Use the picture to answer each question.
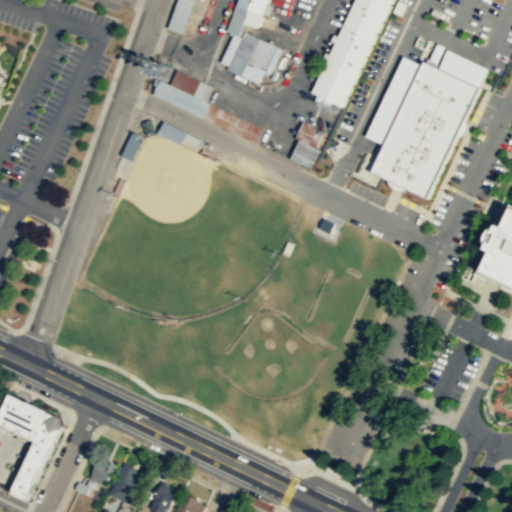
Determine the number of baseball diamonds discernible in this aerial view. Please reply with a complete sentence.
My tally gives 2 baseball diamonds in this view.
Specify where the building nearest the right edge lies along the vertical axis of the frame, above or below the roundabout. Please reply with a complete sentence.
Looking at the scene, the building nearest the right edge is located above the roundabout.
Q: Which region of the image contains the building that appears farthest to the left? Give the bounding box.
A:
[0,392,62,504]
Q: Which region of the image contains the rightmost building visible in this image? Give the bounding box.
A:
[477,204,512,290]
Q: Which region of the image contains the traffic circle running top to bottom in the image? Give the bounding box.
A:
[481,364,512,436]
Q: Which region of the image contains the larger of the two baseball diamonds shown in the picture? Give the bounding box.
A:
[78,134,304,328]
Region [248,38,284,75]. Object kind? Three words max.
barn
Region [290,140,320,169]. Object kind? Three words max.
shed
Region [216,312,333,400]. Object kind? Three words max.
baseball field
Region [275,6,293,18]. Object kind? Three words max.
vehicle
